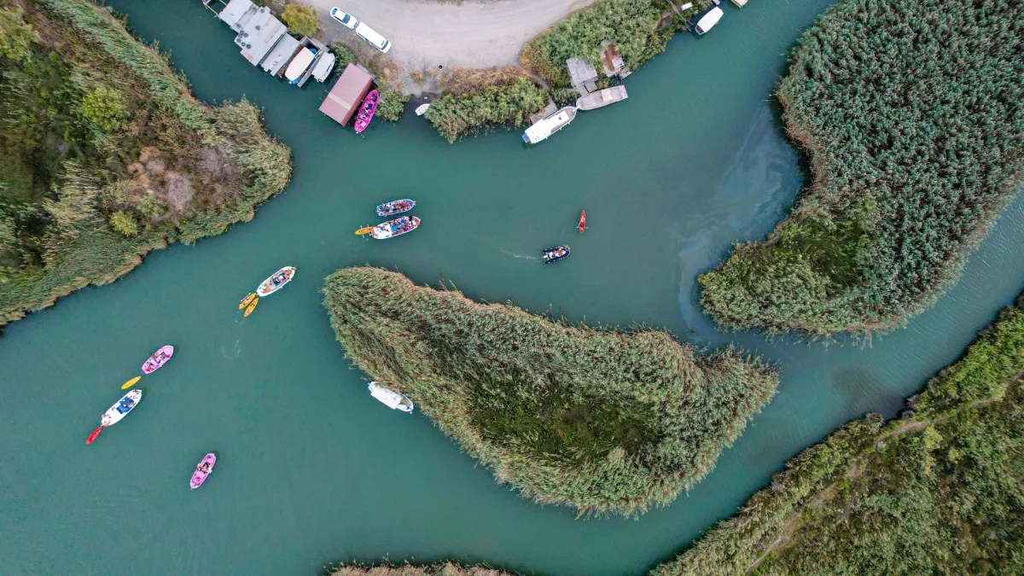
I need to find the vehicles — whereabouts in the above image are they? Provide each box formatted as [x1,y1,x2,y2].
[329,7,359,31]
[355,21,393,55]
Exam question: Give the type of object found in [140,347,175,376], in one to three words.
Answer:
boat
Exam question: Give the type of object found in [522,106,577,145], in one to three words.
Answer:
boat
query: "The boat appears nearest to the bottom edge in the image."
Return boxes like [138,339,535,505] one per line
[188,454,216,490]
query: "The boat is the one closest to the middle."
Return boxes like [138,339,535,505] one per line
[543,247,571,262]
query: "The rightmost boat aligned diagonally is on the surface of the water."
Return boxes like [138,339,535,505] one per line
[693,7,725,37]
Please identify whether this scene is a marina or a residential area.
marina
